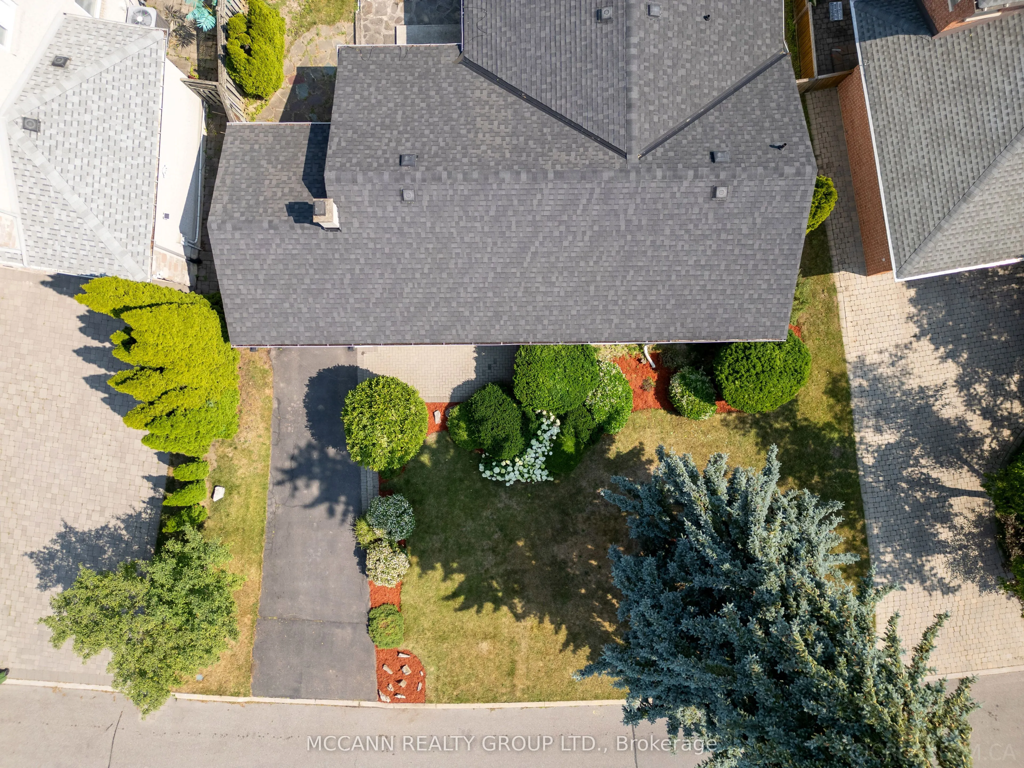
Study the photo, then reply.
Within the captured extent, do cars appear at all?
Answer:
No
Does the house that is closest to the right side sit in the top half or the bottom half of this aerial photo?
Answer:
top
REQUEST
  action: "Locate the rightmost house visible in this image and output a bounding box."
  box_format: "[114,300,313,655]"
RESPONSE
[836,0,1024,283]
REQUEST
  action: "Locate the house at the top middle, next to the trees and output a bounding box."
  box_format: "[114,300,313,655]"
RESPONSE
[204,0,819,370]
